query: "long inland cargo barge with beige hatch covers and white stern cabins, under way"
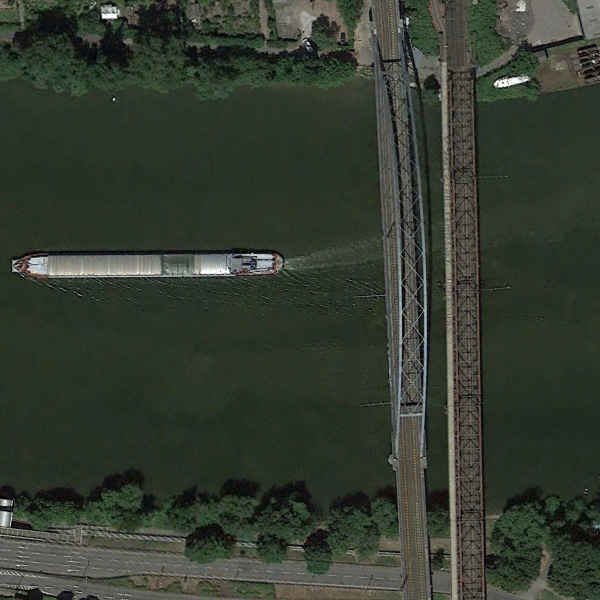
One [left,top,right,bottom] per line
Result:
[11,251,285,278]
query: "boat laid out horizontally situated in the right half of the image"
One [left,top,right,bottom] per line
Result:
[493,75,530,88]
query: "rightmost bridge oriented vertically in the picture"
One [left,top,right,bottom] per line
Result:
[437,57,486,600]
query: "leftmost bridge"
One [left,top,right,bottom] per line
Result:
[369,0,432,600]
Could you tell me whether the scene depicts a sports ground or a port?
port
